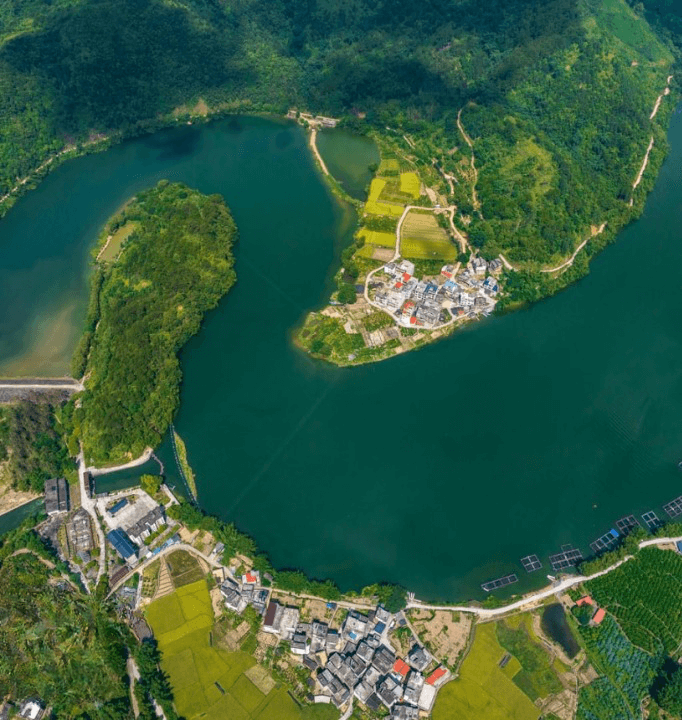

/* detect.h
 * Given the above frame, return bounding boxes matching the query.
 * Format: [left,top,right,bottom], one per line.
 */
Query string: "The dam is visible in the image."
[0,381,86,406]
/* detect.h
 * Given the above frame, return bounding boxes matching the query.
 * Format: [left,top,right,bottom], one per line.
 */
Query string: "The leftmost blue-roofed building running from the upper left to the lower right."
[107,528,136,565]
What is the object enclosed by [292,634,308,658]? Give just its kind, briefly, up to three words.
house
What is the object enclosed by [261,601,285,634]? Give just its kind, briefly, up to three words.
building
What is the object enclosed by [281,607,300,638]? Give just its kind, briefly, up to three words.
building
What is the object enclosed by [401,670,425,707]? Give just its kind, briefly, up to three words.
house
